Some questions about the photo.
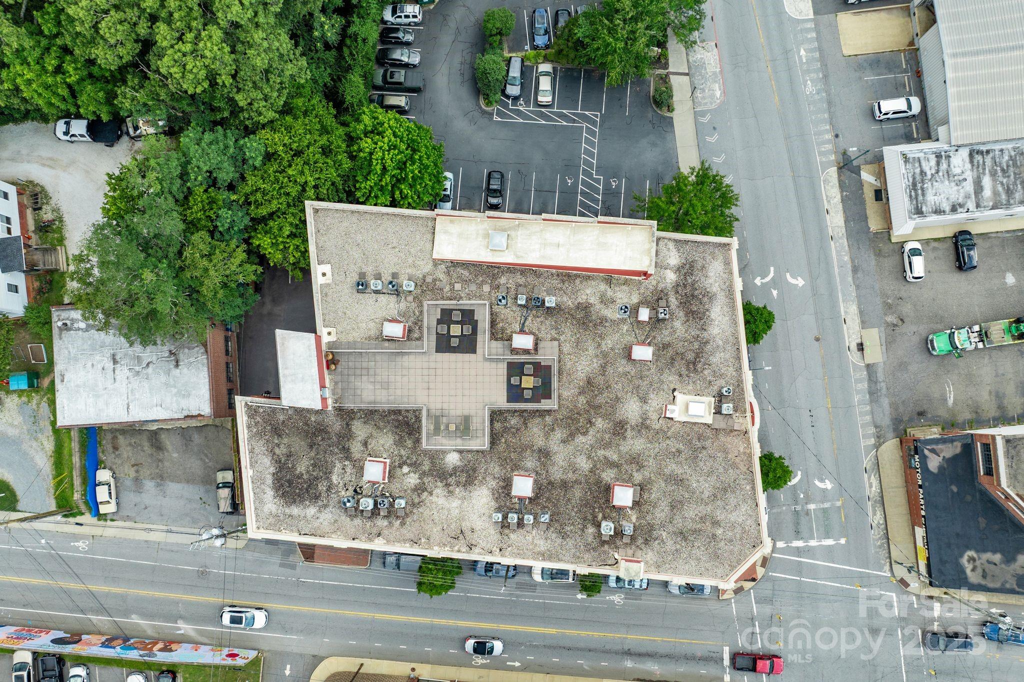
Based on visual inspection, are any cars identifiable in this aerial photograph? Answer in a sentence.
Yes, a car appears in the view.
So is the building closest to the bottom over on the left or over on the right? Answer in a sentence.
The building closest to the bottom is on the right side of the image.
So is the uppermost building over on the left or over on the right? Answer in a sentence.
The uppermost building appears in the right half of the scene.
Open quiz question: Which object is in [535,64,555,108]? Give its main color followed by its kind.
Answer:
white car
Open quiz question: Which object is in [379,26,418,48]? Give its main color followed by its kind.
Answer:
black car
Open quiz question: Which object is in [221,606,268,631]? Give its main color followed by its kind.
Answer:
white car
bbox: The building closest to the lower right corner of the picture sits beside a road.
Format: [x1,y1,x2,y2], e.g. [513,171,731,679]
[902,423,1024,596]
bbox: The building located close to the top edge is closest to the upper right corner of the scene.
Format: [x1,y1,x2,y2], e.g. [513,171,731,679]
[918,0,1024,144]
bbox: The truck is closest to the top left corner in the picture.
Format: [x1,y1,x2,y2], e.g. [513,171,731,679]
[56,118,123,146]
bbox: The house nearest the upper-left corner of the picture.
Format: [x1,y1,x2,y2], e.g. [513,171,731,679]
[0,169,67,305]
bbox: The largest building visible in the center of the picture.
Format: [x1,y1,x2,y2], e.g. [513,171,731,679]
[235,201,774,590]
